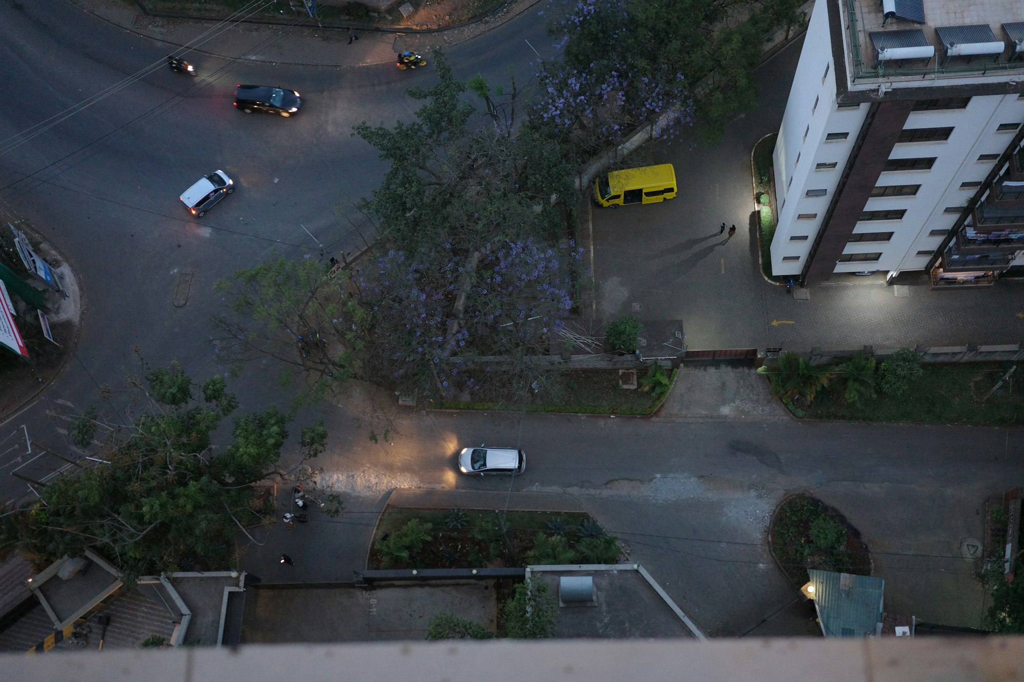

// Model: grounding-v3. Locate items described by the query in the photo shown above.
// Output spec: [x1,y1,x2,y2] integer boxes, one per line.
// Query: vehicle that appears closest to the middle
[458,440,529,478]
